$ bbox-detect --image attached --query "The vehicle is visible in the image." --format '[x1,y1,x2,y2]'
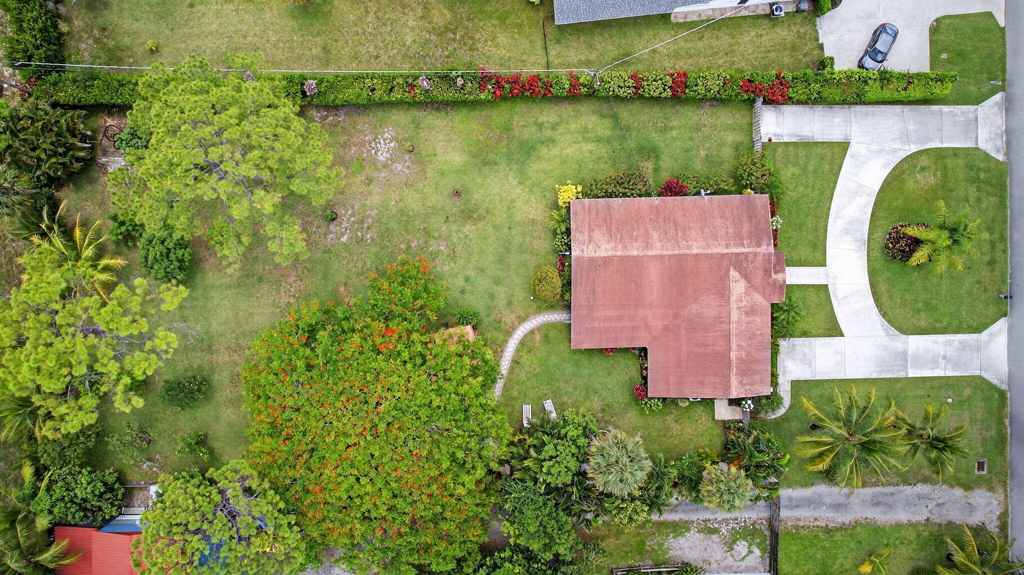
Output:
[856,23,899,79]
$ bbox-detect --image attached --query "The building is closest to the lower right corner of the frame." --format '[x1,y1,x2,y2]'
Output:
[559,189,794,398]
